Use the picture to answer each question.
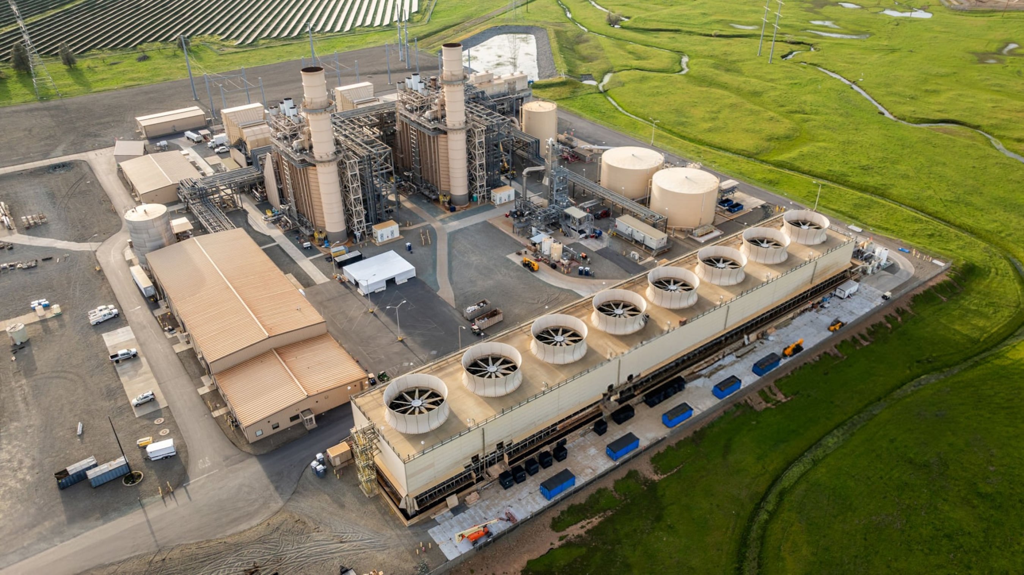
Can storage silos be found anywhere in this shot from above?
Yes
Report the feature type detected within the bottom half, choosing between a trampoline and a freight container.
freight container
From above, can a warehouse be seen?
Yes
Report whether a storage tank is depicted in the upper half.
Yes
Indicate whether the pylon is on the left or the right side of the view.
left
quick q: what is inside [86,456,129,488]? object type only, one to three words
shipping container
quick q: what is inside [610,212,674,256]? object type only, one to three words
building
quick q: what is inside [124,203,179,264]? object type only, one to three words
silo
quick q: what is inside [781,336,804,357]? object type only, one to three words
work vehicle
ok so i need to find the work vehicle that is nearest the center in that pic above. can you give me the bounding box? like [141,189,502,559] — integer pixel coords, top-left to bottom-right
[519,255,540,270]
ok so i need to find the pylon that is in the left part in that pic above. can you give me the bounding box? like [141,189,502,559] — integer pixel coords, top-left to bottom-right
[3,0,63,101]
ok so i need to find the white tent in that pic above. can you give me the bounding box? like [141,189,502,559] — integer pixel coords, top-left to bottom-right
[343,251,416,299]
